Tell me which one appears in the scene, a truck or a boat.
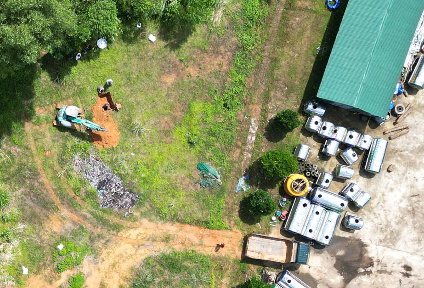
truck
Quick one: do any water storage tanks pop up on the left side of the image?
No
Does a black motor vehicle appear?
No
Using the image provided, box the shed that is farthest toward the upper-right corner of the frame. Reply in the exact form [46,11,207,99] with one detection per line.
[311,0,424,119]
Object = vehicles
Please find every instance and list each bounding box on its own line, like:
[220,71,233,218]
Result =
[241,232,308,269]
[49,101,113,145]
